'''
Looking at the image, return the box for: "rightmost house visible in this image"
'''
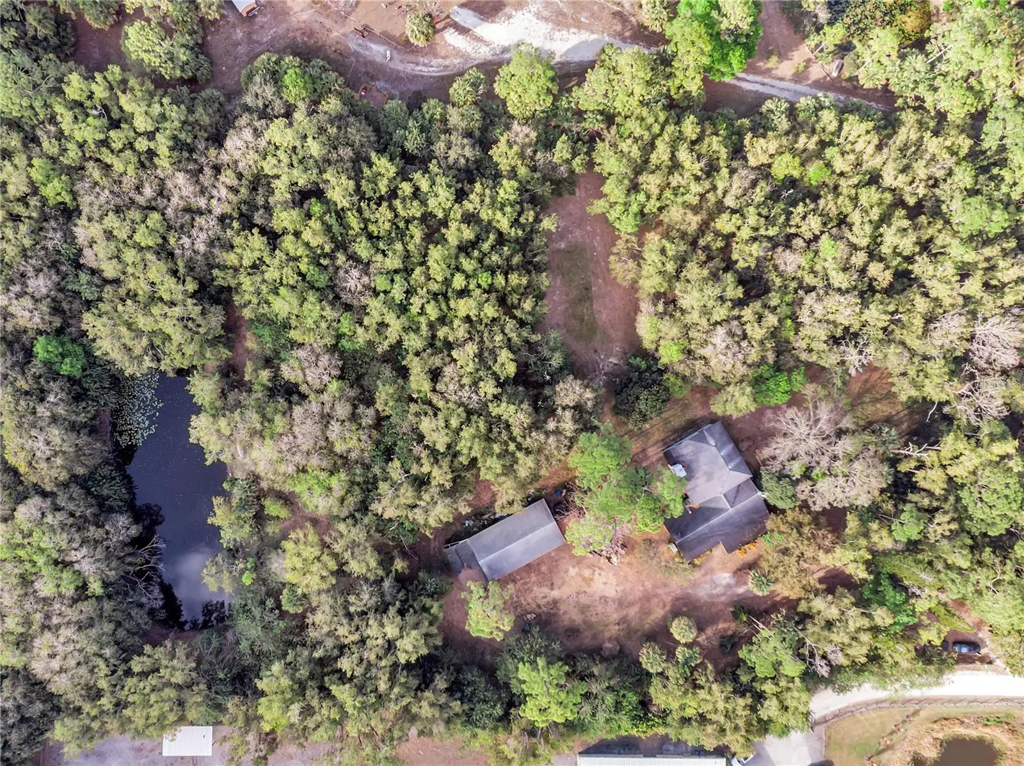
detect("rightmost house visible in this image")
[662,420,776,564]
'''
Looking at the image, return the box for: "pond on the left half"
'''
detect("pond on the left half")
[105,360,240,633]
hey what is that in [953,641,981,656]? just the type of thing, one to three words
car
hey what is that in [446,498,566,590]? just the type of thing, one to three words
shed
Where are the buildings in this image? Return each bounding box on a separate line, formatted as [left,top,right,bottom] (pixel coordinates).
[162,720,217,756]
[577,751,726,766]
[662,420,776,564]
[233,0,262,23]
[446,498,566,590]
